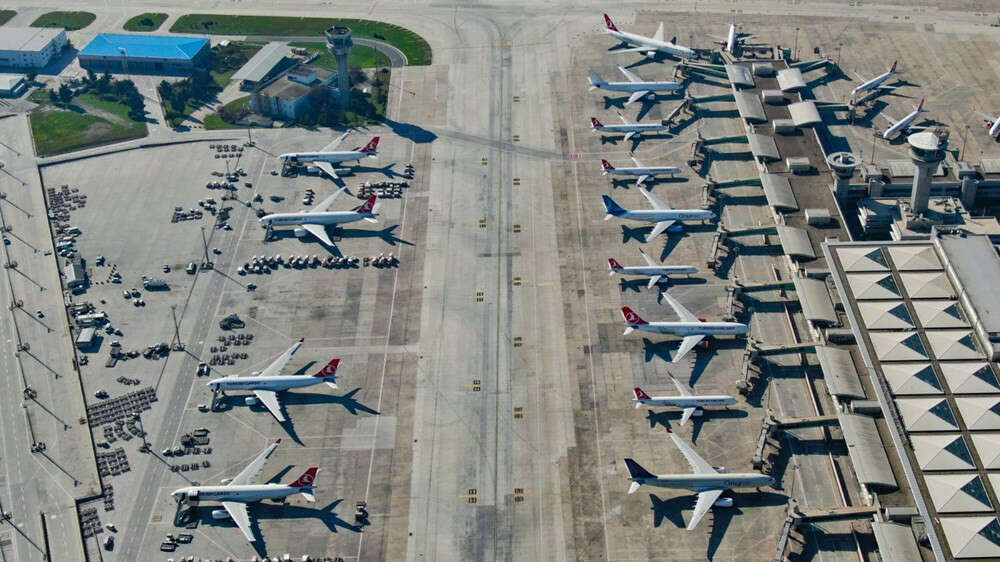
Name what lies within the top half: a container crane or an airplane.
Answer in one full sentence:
There is an airplane within the top half.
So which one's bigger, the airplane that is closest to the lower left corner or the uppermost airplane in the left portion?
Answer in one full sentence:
The larger object is the airplane that is closest to the lower left corner, with the uppermost airplane in the left portion being the smaller of the pair.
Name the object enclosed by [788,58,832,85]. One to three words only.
jet bridge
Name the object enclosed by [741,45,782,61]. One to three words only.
jet bridge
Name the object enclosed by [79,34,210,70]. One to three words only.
hangar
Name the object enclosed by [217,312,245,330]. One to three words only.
work vehicle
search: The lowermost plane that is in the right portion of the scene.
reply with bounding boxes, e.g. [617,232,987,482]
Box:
[628,426,773,526]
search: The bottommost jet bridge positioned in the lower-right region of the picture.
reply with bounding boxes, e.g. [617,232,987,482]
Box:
[772,506,865,562]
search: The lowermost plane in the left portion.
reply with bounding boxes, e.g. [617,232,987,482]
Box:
[172,437,317,539]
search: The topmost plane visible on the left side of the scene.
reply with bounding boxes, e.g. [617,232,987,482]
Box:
[277,127,378,177]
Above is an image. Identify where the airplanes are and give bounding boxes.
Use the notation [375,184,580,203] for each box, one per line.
[172,437,317,539]
[257,186,375,243]
[590,61,683,103]
[594,110,667,140]
[610,246,698,286]
[851,63,900,97]
[623,286,748,361]
[628,426,773,526]
[208,335,338,418]
[277,127,378,177]
[599,13,699,60]
[603,151,680,183]
[604,181,714,239]
[637,372,737,424]
[706,20,756,55]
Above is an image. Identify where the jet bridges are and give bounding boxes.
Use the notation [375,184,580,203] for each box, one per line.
[686,137,747,175]
[741,45,782,61]
[735,342,812,400]
[700,179,761,221]
[722,281,794,321]
[706,227,776,277]
[749,416,836,481]
[661,95,734,133]
[670,58,725,87]
[809,100,864,135]
[788,58,832,85]
[772,506,865,562]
